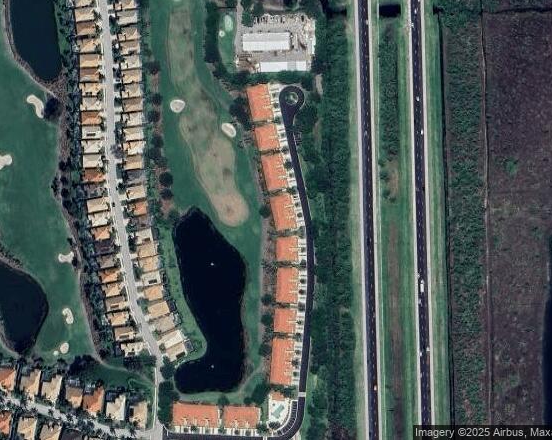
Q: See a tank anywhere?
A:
No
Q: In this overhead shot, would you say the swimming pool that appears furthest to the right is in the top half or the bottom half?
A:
bottom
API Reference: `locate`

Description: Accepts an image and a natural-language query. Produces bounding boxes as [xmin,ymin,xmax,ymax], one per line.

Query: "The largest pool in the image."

[269,394,289,425]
